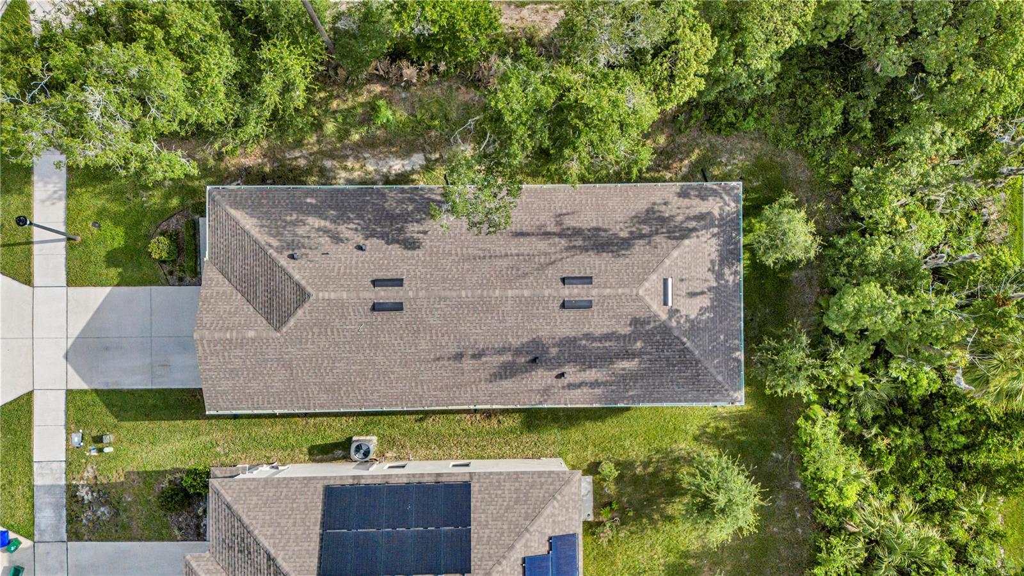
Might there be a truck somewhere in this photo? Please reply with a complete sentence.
No, the picture doesn't show any truck.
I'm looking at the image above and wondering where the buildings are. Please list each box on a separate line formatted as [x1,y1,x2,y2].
[191,169,745,413]
[183,457,584,576]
